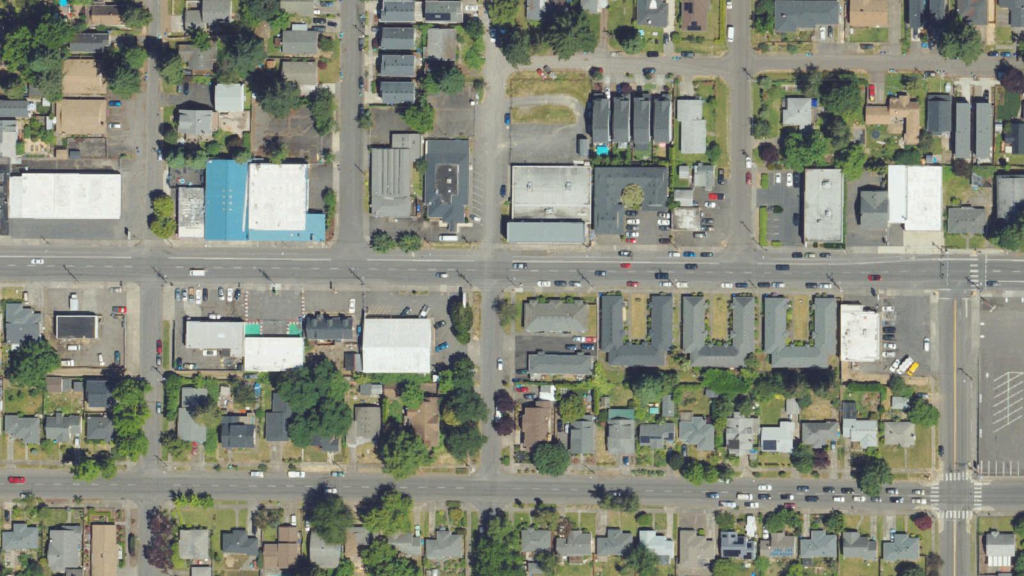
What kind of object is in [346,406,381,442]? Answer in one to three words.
house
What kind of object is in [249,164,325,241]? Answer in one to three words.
building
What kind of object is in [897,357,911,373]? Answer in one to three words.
vehicle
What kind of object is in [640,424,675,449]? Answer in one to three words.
house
